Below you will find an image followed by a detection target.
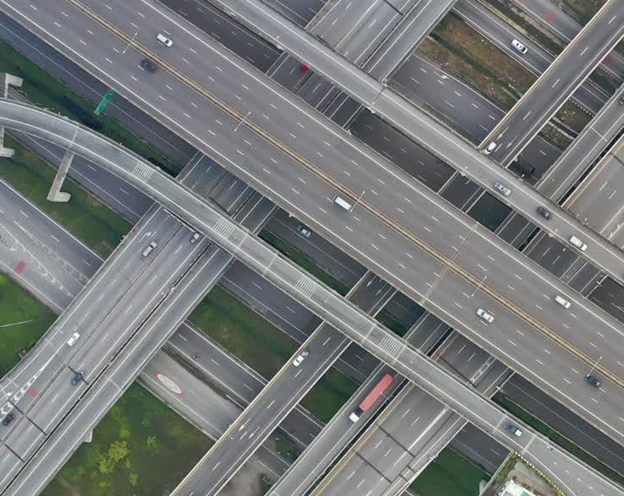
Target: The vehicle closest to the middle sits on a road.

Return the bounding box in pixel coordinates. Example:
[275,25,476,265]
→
[294,223,311,237]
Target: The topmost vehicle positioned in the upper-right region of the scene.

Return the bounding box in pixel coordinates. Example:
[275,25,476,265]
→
[511,39,526,52]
